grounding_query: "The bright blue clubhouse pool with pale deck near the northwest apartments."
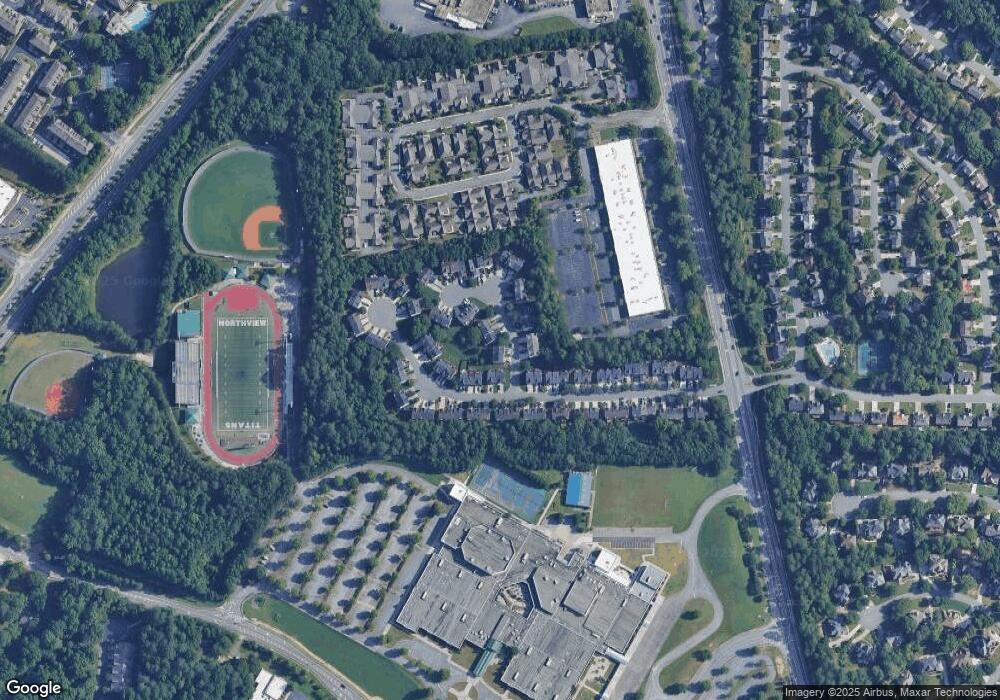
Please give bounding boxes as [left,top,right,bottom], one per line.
[107,1,157,36]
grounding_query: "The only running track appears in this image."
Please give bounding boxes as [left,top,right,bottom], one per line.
[203,284,283,468]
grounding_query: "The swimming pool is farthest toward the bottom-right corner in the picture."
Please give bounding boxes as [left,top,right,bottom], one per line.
[815,338,840,365]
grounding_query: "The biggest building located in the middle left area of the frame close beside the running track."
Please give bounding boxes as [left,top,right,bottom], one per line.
[178,309,201,336]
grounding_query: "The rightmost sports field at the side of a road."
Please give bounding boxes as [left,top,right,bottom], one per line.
[592,466,731,527]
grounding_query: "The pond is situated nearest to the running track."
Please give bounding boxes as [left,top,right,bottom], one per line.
[96,210,173,340]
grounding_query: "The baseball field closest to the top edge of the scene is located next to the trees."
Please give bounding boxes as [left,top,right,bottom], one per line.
[183,145,298,259]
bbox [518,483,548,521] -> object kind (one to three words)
tennis court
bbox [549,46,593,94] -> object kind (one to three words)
house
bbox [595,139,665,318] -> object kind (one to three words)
building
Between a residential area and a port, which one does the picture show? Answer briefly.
residential area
